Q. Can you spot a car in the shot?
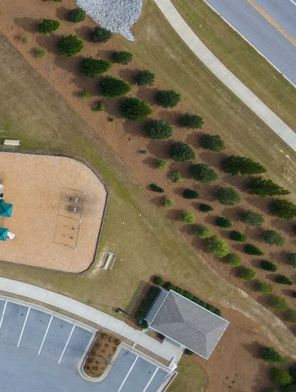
No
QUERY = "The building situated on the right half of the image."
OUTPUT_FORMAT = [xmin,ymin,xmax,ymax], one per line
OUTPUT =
[146,288,230,359]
